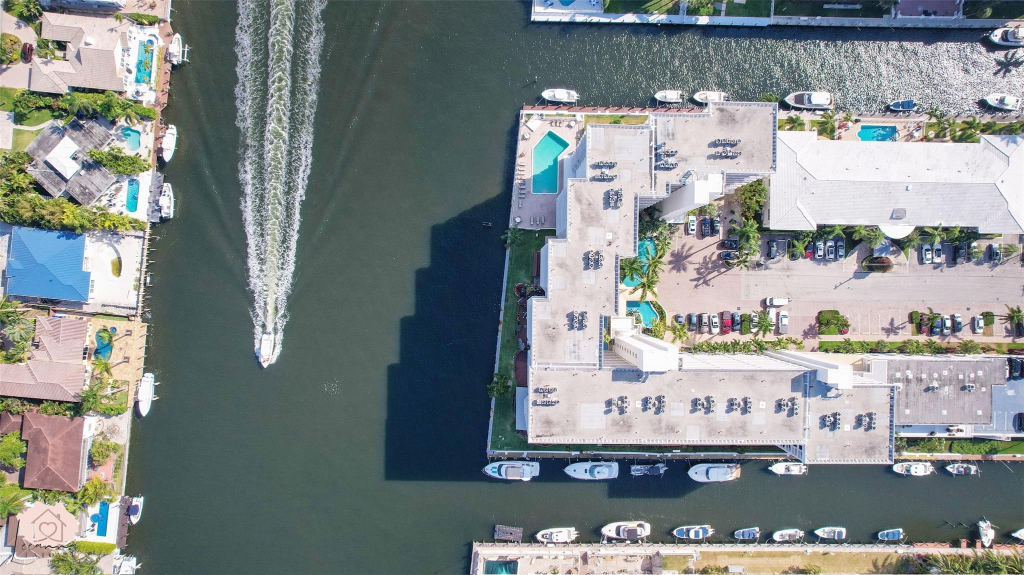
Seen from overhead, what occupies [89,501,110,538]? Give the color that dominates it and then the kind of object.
blue swimming pool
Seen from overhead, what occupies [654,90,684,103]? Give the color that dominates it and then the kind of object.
white boat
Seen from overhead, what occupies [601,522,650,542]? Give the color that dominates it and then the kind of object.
white boat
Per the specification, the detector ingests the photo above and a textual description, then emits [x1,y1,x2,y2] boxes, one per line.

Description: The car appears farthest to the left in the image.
[21,43,33,63]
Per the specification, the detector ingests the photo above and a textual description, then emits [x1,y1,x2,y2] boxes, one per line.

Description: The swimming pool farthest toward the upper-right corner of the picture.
[855,123,902,141]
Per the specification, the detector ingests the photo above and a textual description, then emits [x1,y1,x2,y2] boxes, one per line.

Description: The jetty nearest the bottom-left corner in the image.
[116,495,134,549]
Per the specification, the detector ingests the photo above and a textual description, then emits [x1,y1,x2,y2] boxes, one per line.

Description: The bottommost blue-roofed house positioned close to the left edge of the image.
[6,227,98,302]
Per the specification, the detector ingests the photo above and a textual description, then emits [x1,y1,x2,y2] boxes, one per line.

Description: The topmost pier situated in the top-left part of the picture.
[156,21,174,112]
